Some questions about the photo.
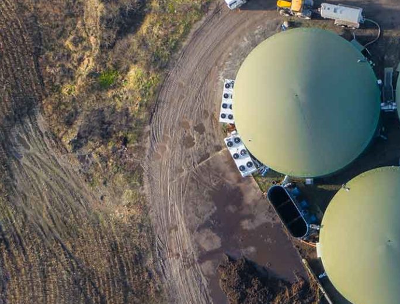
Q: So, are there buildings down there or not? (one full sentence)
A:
No, I can't see a single building in this photo.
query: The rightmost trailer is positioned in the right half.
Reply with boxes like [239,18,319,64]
[312,4,365,30]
